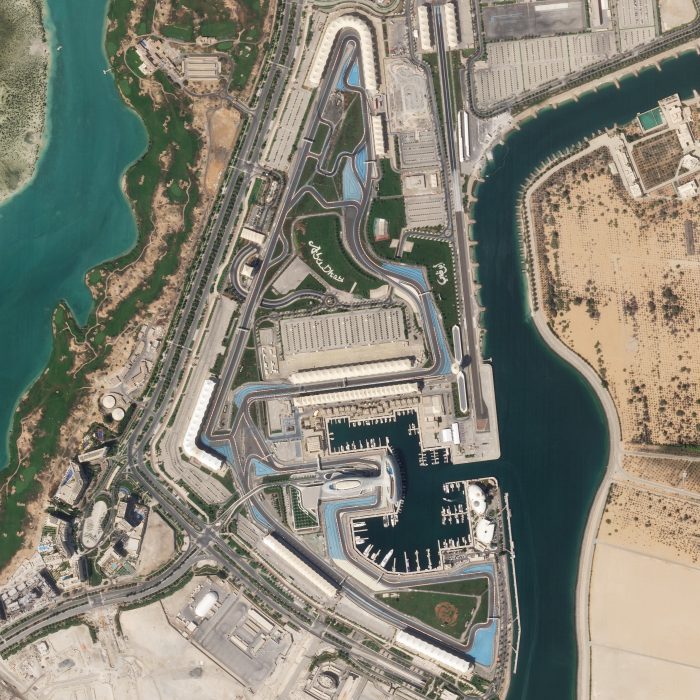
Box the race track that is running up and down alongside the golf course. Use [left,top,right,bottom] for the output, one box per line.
[201,28,498,667]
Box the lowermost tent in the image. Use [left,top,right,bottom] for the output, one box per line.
[196,593,218,617]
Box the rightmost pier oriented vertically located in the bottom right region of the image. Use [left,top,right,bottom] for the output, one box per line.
[502,494,519,672]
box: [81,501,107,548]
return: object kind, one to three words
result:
building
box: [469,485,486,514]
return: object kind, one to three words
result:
building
